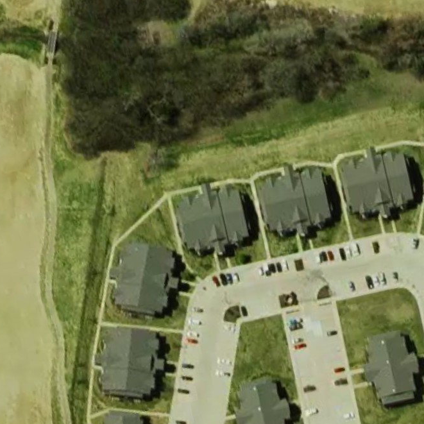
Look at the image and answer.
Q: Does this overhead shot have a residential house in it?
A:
Yes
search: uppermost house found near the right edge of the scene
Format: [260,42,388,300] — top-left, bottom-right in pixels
[339,148,413,219]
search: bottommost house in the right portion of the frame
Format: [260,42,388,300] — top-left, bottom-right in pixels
[229,387,300,424]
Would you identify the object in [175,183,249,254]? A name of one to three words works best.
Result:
house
